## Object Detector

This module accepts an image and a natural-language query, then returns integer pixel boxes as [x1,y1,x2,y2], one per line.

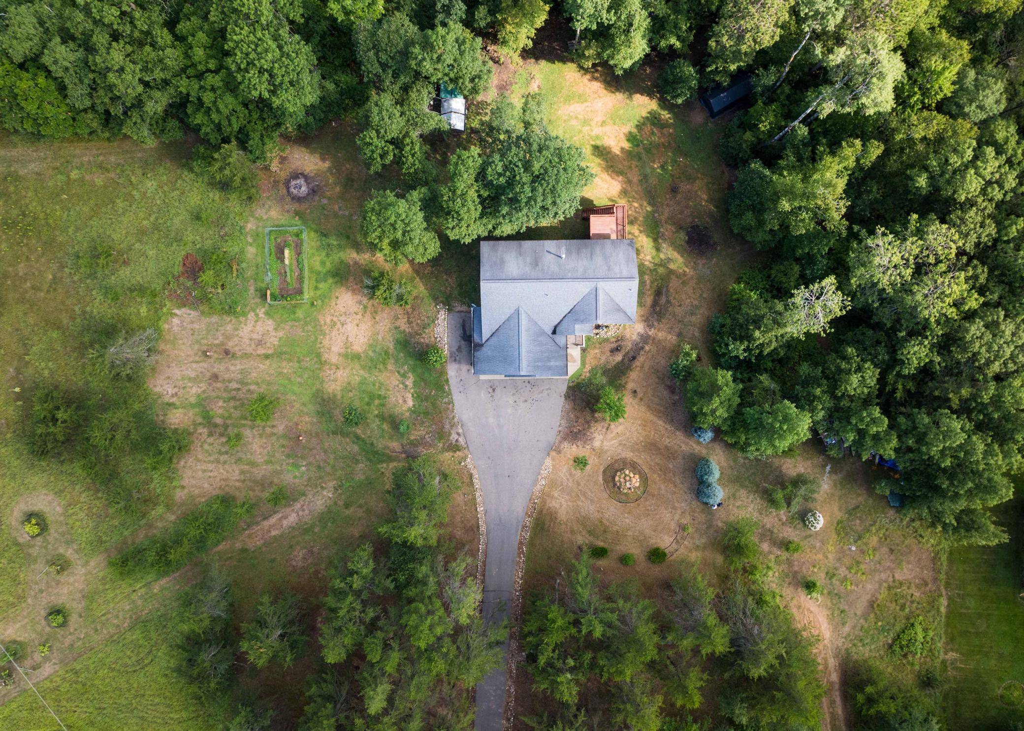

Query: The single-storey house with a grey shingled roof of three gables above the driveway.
[471,239,639,378]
